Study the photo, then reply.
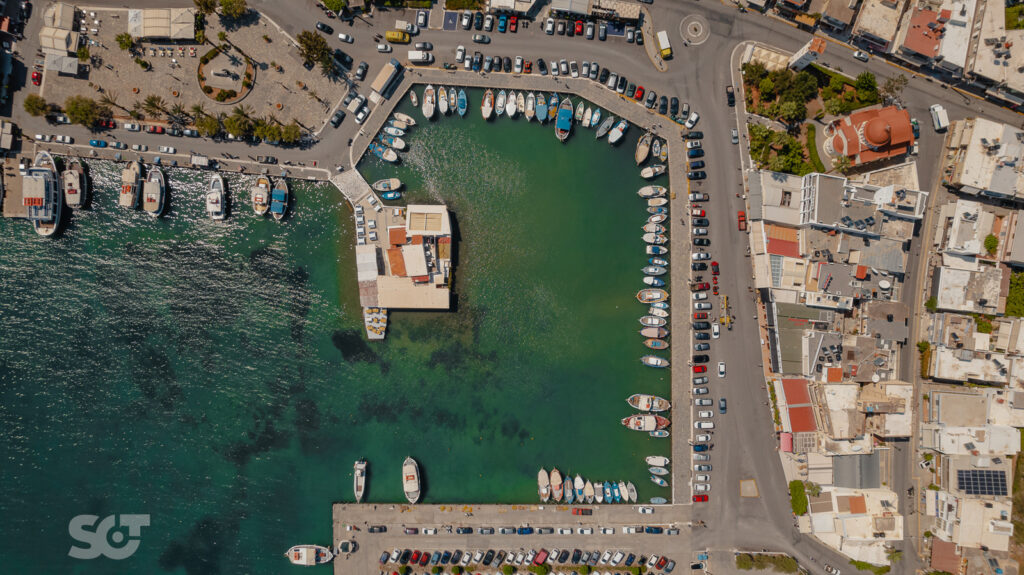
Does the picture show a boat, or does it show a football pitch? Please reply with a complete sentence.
This aerial view contains a boat.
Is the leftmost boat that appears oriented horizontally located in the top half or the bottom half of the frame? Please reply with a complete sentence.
It is in the bottom half that the leftmost boat that appears oriented horizontally appears.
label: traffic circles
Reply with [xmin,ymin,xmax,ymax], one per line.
[680,14,710,45]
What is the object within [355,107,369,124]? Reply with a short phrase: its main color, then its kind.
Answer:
white car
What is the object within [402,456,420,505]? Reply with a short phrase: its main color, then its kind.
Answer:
white boat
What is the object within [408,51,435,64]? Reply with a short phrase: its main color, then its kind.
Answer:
white vehicle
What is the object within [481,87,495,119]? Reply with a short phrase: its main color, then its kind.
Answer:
white boat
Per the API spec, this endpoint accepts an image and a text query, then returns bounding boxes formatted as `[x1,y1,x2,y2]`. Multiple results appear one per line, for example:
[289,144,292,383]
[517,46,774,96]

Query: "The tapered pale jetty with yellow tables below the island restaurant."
[365,308,387,339]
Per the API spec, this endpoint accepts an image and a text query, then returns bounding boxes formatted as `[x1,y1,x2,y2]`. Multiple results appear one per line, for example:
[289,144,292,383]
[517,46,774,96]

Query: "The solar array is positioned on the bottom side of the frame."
[957,470,1007,495]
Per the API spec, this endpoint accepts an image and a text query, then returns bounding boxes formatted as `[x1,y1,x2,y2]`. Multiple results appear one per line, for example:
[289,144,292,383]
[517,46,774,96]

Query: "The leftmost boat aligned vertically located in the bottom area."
[354,459,366,503]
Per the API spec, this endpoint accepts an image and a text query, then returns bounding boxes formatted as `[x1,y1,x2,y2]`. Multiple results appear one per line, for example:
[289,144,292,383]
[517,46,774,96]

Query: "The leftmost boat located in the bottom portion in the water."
[284,544,332,566]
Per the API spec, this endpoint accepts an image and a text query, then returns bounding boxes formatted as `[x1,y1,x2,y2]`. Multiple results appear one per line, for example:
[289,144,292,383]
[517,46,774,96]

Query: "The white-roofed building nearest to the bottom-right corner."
[951,494,1017,551]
